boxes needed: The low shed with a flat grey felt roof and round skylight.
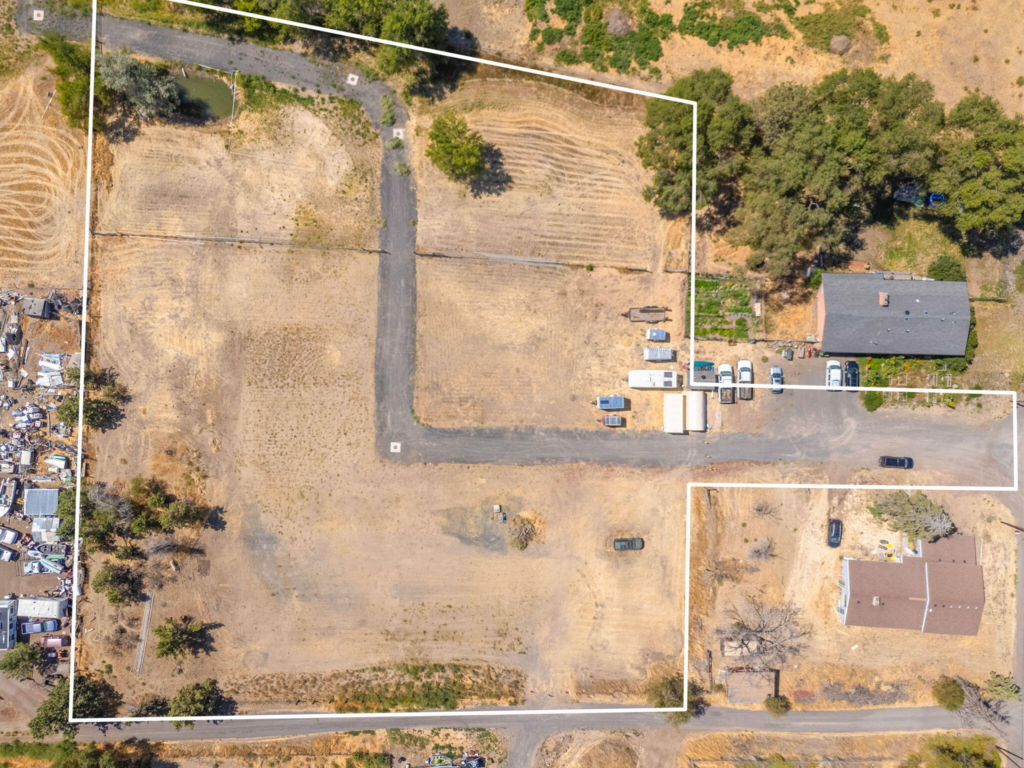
[684,370,716,389]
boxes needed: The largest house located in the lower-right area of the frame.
[831,534,985,636]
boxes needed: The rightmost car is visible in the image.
[877,455,913,471]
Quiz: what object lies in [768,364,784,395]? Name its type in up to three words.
car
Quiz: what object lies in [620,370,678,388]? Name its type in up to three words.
camper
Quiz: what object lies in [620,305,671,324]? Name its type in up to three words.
trailer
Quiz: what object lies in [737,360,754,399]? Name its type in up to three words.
vehicle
